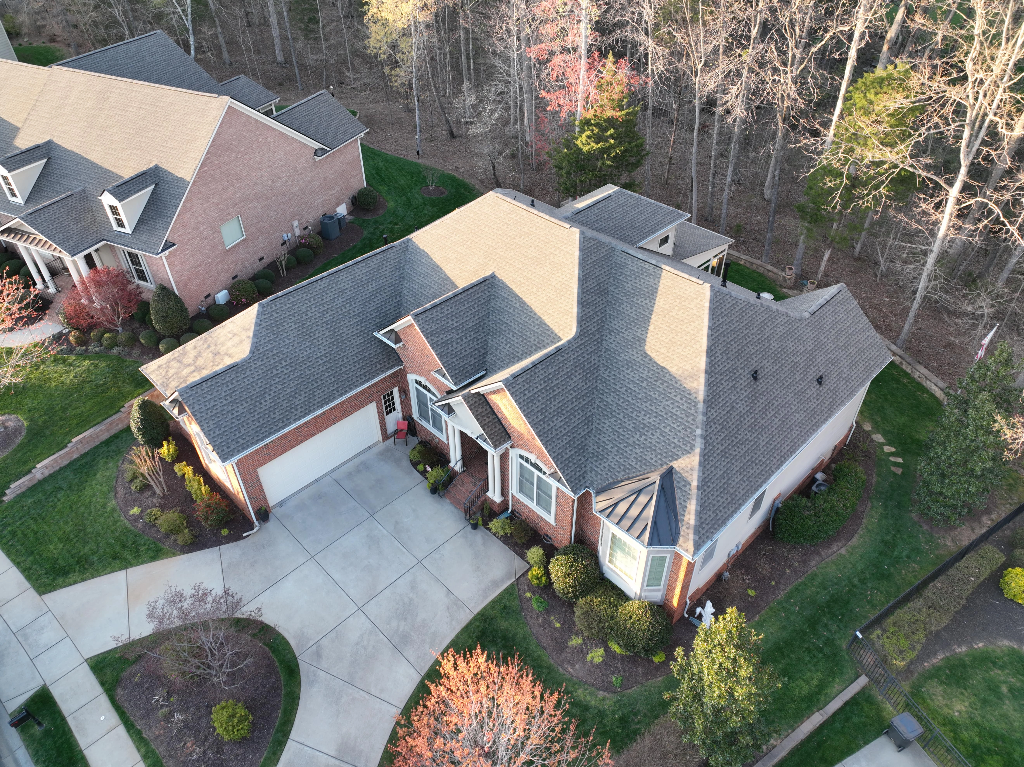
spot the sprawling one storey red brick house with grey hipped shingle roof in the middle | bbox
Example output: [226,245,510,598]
[138,173,894,621]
